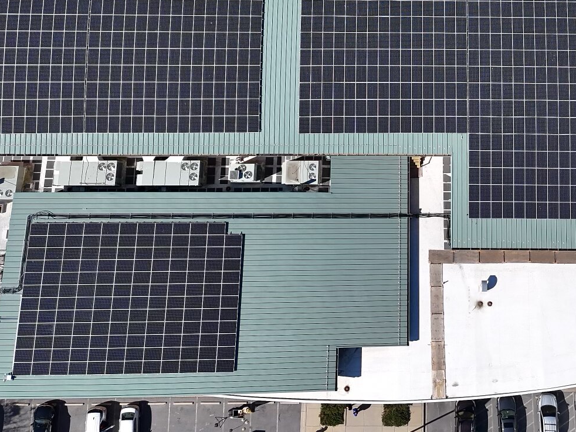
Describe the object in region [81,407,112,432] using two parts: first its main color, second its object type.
white car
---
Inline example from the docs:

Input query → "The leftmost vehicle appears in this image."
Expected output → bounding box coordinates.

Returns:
[30,404,57,432]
